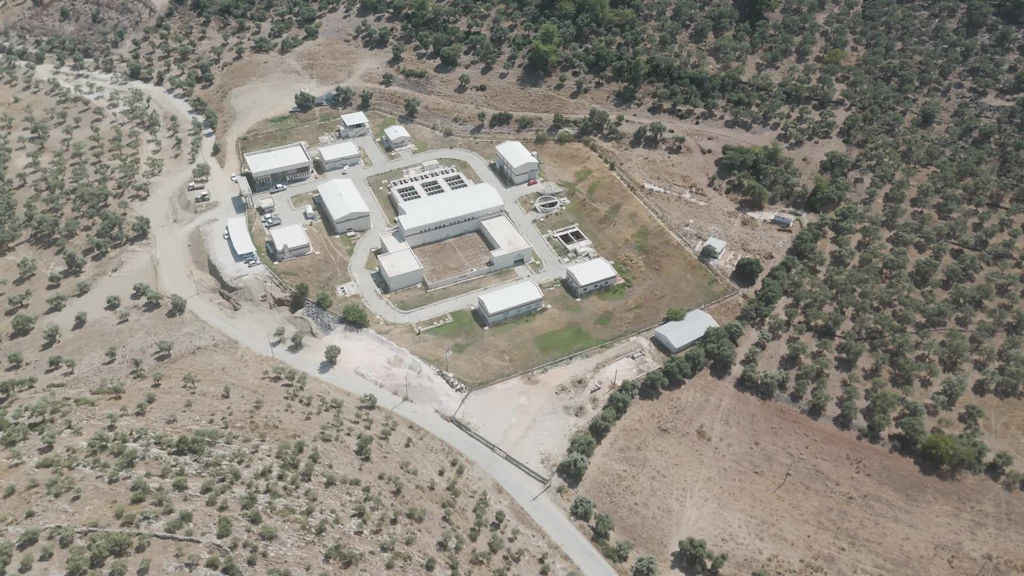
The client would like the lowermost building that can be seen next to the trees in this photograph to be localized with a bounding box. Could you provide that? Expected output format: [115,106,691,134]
[654,310,715,354]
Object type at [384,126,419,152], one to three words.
house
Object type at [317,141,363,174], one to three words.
building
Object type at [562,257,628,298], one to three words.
building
